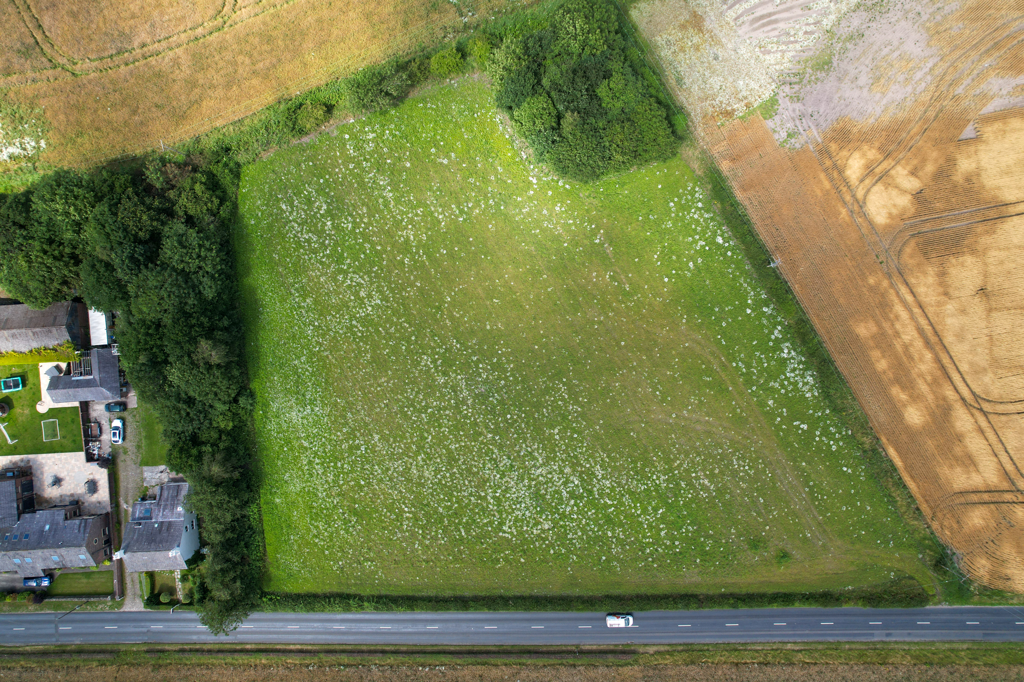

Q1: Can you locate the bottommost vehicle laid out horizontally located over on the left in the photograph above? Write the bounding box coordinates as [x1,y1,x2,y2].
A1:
[22,575,54,588]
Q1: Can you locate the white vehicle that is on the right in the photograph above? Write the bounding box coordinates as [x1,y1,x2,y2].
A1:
[606,614,634,628]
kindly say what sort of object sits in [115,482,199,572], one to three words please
house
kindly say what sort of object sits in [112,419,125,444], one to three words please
vehicle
